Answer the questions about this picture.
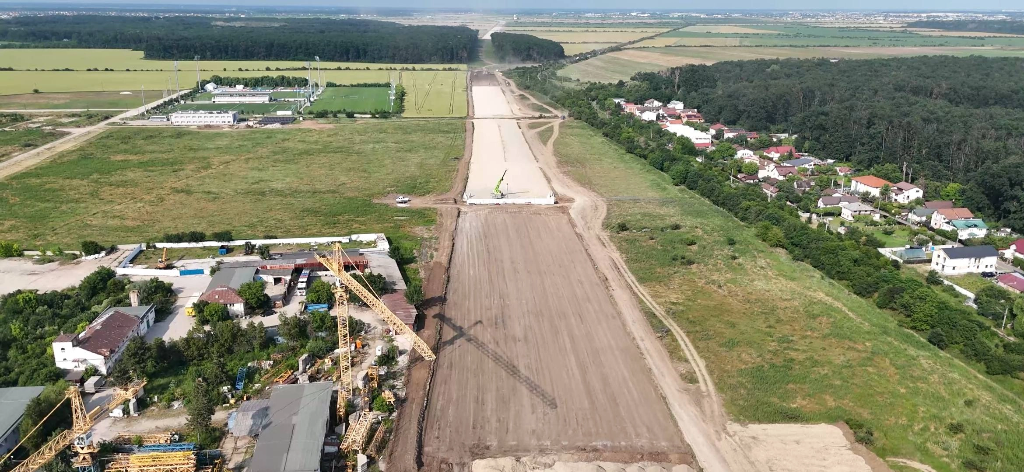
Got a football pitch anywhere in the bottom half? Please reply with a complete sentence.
No, the scene shows no football pitch in the bottom half.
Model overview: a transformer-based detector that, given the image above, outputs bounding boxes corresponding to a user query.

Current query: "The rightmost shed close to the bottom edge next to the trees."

[252,380,334,472]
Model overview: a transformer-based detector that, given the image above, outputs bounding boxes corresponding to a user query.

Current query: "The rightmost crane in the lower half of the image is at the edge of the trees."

[317,244,438,407]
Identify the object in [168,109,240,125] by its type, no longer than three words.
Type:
building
